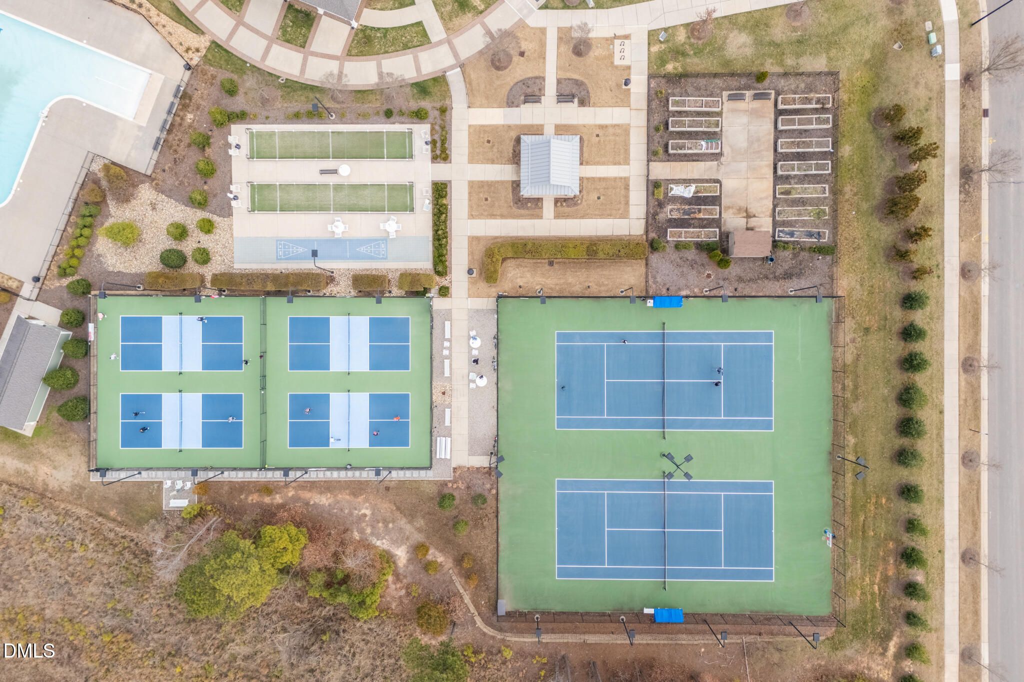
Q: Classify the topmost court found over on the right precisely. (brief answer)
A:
tennis court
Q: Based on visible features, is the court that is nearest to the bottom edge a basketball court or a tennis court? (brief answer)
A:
tennis court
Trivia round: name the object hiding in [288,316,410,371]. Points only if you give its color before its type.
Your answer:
blue sports court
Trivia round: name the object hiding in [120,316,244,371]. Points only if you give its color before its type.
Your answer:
blue sports court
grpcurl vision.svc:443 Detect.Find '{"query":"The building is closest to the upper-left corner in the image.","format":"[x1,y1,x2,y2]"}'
[285,0,362,31]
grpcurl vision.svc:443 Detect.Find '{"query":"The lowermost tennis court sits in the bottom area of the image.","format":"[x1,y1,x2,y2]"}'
[556,480,774,581]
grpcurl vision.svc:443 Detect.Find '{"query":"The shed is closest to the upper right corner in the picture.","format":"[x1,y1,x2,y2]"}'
[728,231,773,258]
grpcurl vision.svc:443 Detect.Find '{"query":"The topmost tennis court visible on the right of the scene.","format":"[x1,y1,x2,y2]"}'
[556,331,774,431]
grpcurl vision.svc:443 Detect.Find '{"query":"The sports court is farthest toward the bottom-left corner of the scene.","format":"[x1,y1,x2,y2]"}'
[120,394,244,449]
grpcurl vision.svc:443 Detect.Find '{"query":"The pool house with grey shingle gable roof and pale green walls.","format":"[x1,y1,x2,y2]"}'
[0,314,74,431]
